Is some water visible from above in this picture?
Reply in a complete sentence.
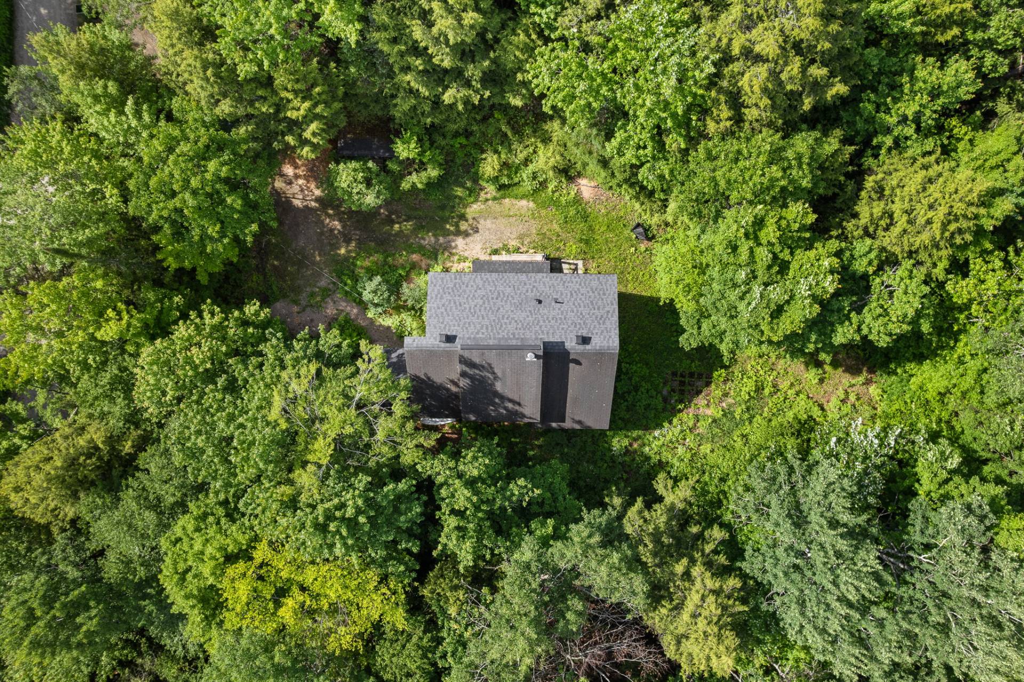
No, the scene doesn't show any water.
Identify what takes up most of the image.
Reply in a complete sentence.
What you mostly see from above here is trees.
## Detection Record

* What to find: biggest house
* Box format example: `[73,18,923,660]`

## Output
[383,253,620,430]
